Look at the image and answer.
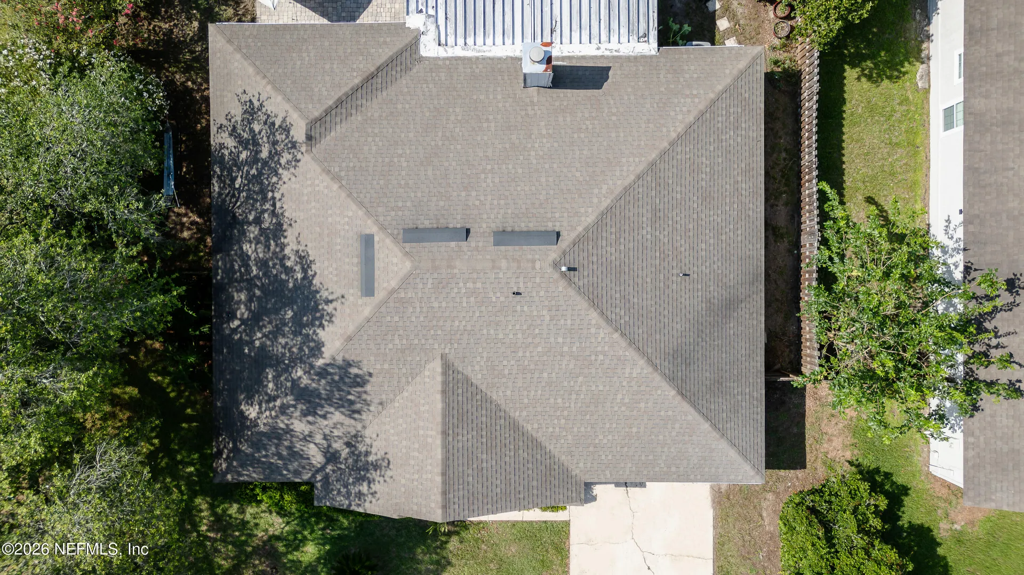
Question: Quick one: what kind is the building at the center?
house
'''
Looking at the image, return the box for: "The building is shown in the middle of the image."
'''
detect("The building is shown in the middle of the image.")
[208,20,765,521]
